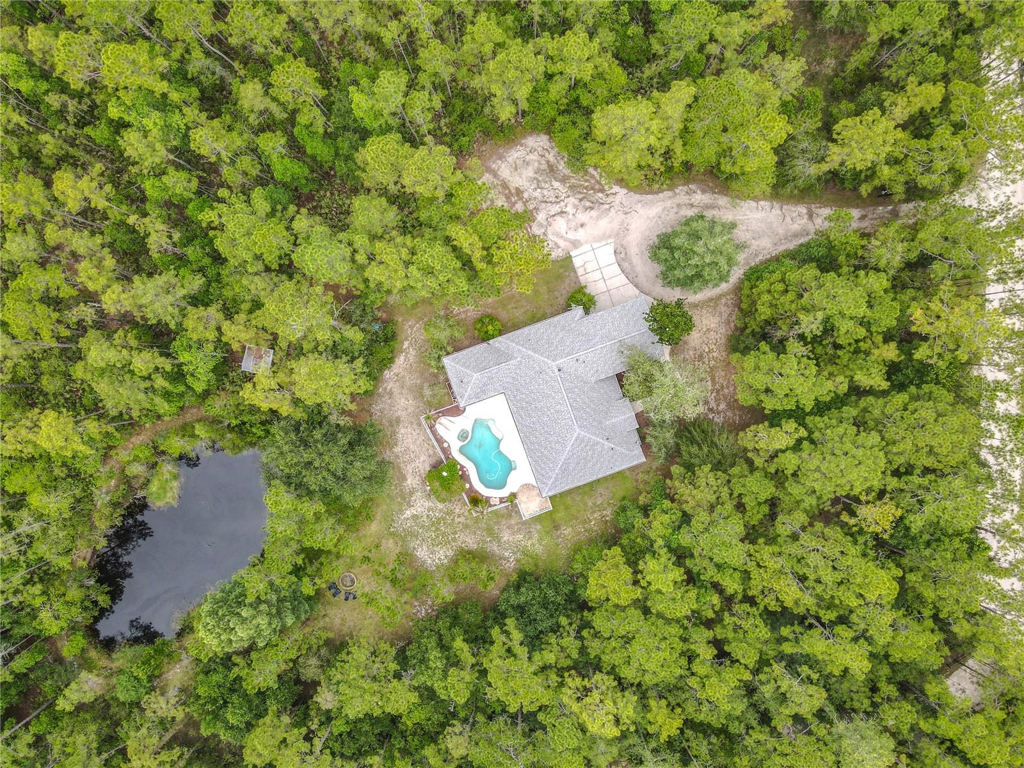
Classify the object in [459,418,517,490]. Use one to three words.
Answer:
swimming pool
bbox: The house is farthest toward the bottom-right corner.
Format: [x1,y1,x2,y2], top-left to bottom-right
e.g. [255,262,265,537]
[442,293,667,499]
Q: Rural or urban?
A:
rural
